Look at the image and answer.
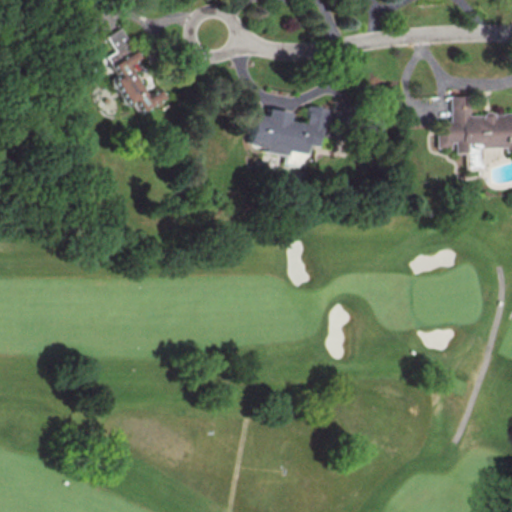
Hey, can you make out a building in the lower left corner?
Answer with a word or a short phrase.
No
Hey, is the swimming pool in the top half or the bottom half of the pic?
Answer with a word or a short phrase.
top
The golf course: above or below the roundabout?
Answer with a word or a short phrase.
below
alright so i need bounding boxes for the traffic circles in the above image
[182,6,275,64]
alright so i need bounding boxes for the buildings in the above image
[437,96,512,156]
[112,52,170,114]
[252,106,330,166]
[106,30,132,69]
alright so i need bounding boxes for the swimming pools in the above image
[490,162,512,186]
